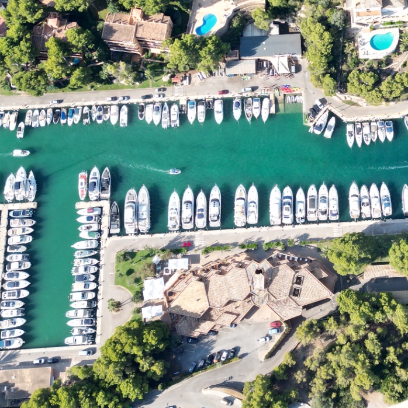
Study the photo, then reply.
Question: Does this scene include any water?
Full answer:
Yes, the picture does contain water.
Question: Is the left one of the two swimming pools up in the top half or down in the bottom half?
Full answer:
The left one of the two swimming pools is in the top half of the image.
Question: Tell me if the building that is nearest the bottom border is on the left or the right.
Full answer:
The building that is nearest the bottom border appears in the left half of the scene.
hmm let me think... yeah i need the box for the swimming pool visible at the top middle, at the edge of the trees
[196,11,218,33]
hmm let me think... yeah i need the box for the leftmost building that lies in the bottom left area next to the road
[0,367,55,405]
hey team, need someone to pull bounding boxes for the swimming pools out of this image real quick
[196,11,218,33]
[369,31,394,51]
